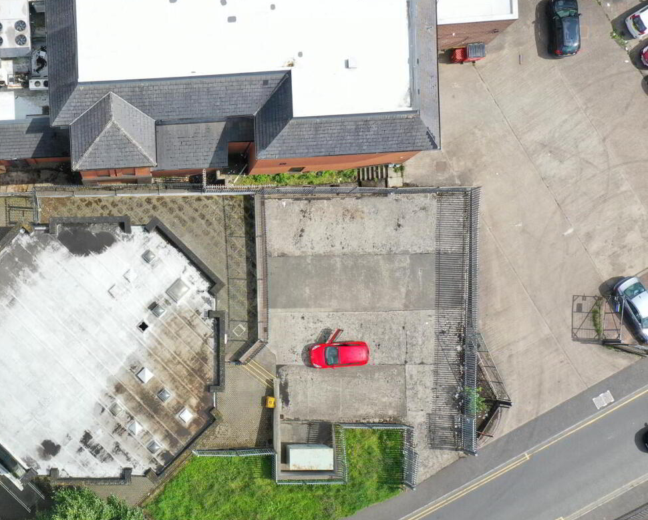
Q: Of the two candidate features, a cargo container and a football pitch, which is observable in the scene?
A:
cargo container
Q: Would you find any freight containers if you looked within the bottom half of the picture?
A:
Yes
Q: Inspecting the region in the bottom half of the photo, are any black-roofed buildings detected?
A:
No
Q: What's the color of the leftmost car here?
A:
red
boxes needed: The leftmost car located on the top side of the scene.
[543,0,581,59]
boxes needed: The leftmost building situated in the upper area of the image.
[0,0,441,186]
